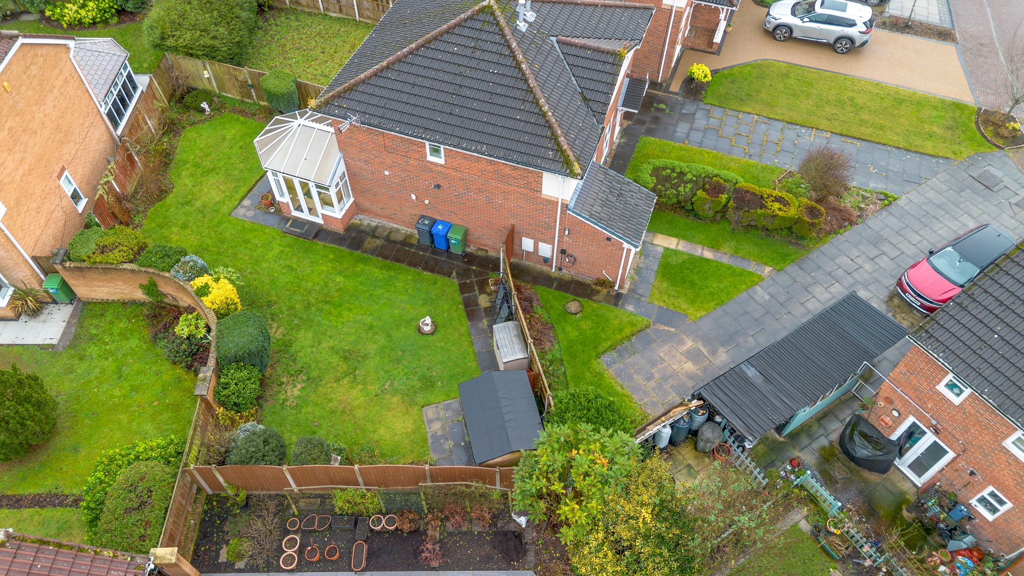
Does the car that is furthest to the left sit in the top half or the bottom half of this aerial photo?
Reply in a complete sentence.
It is in the top half that the car that is furthest to the left appears.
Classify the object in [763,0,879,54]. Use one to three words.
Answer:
car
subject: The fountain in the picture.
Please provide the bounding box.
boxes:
[417,313,433,333]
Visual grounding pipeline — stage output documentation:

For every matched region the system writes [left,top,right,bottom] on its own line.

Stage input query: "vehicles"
[869,0,899,7]
[895,220,1019,315]
[763,0,879,54]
